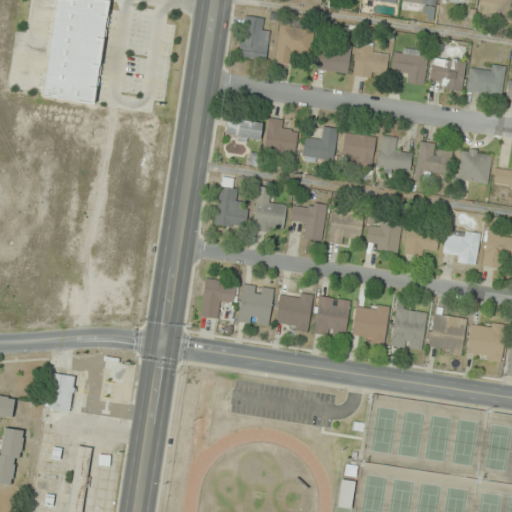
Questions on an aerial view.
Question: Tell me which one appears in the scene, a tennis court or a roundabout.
tennis court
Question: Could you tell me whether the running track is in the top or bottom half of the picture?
bottom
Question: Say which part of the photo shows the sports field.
bottom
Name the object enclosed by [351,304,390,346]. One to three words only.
house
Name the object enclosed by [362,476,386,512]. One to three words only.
tennis court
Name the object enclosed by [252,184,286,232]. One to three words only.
house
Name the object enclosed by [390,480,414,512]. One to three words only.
tennis court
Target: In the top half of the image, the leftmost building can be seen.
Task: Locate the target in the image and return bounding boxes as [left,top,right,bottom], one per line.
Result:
[45,0,112,106]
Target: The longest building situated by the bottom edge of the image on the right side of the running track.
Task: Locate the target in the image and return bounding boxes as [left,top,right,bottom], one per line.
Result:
[338,480,356,510]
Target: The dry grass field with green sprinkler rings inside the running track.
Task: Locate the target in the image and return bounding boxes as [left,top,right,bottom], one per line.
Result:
[196,442,318,512]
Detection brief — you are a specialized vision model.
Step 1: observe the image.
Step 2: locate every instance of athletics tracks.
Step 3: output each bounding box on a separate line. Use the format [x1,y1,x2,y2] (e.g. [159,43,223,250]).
[181,427,334,512]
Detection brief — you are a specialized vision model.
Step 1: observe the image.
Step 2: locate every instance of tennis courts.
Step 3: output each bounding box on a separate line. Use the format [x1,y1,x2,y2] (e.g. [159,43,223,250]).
[452,420,478,466]
[362,476,386,512]
[444,488,468,512]
[426,416,450,462]
[371,408,396,454]
[398,412,424,458]
[416,484,440,512]
[390,480,414,512]
[486,425,511,471]
[479,493,501,512]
